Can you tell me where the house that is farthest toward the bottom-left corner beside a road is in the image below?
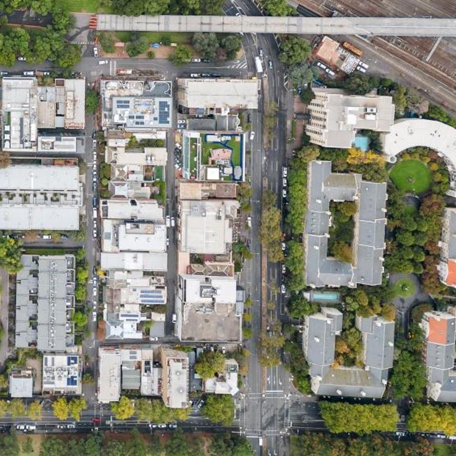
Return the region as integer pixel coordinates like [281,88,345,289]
[9,367,33,398]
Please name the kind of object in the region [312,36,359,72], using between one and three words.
building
